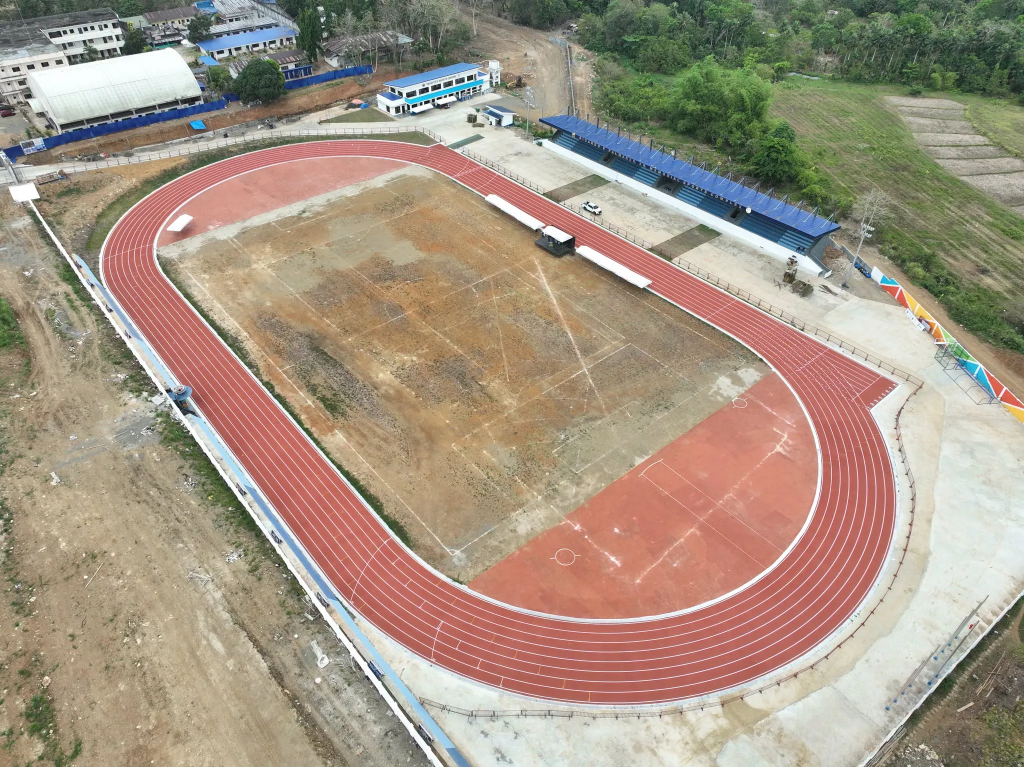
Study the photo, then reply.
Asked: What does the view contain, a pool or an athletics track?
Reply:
athletics track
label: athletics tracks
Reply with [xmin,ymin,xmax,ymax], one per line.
[101,140,899,705]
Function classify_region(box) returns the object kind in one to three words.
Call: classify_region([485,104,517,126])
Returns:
shed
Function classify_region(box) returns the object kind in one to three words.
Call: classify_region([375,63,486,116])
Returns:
building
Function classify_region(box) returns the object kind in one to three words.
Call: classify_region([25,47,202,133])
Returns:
building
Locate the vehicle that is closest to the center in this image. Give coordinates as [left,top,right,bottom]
[582,200,604,214]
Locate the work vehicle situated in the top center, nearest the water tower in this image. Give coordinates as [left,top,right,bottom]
[504,74,529,88]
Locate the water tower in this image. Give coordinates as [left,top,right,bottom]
[467,57,503,87]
